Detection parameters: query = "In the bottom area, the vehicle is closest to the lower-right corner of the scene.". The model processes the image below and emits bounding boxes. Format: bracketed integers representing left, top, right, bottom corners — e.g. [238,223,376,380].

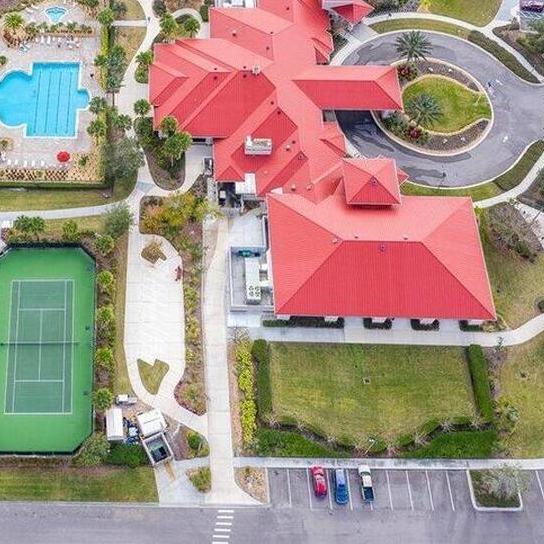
[356,464,377,504]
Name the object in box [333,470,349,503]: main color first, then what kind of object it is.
blue car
